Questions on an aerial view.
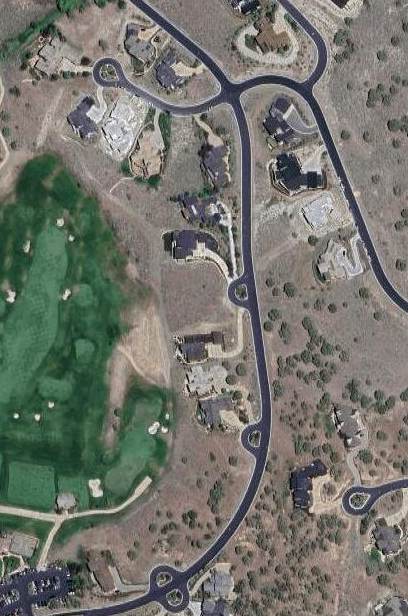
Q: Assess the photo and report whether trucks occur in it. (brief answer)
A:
No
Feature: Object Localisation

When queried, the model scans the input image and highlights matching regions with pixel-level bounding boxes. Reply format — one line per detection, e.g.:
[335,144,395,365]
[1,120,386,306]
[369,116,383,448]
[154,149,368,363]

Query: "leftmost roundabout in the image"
[94,58,125,87]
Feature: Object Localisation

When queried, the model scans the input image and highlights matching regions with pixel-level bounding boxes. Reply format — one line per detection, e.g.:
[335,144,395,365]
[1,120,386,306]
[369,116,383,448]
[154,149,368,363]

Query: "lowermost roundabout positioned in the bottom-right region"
[345,484,382,515]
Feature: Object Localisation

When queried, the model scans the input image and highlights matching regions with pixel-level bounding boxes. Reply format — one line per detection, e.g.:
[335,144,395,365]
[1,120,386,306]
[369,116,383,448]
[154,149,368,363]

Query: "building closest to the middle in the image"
[176,331,223,364]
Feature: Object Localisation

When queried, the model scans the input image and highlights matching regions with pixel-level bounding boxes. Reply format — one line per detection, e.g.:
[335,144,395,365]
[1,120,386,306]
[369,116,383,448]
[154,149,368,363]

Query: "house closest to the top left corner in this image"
[28,30,86,79]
